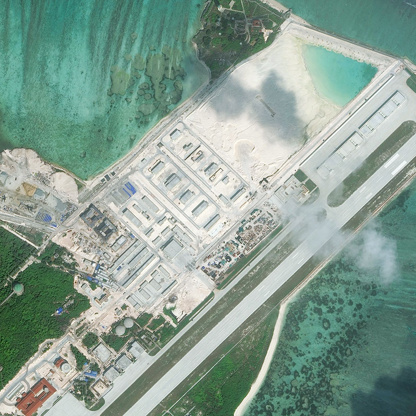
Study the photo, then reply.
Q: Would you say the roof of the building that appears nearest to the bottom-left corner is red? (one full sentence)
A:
Yes, red is the color of the roof of the building that appears nearest to the bottom-left corner.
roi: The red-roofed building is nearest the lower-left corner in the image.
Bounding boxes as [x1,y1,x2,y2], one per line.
[15,378,57,416]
